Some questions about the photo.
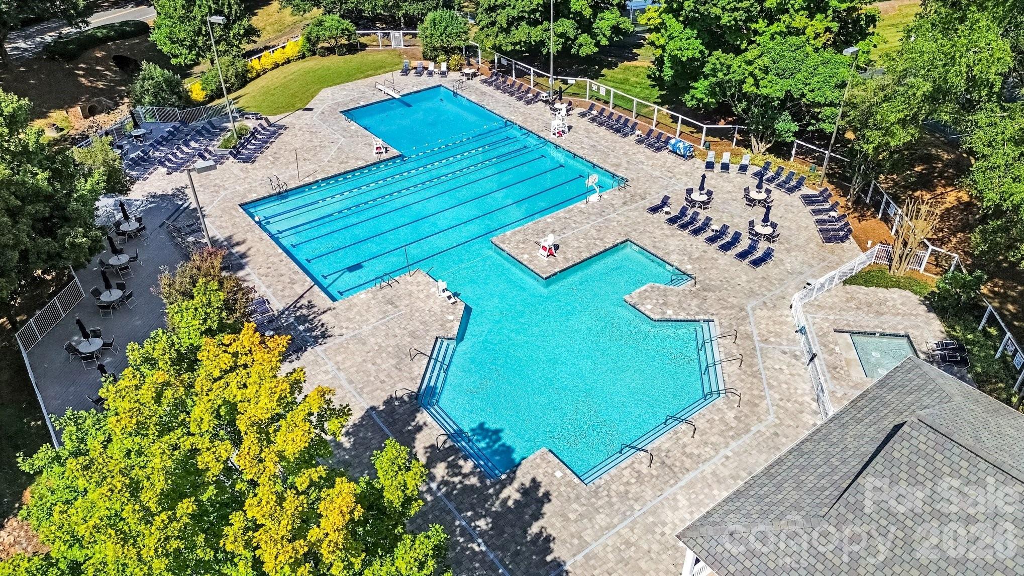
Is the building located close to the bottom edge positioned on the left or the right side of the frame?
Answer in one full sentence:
The building located close to the bottom edge is on the right side of the image.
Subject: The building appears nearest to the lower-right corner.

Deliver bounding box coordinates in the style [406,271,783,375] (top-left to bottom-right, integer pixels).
[672,352,1024,576]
